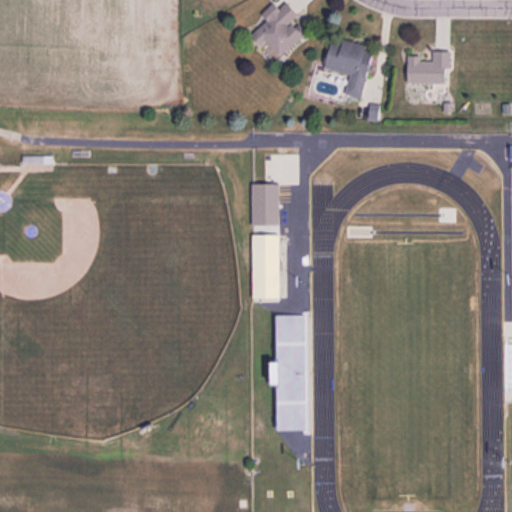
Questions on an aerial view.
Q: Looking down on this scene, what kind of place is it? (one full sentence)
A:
This image shows a sports ground.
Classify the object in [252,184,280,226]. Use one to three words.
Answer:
shed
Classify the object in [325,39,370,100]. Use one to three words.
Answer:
house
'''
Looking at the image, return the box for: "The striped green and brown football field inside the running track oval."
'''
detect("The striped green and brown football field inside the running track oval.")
[334,183,481,512]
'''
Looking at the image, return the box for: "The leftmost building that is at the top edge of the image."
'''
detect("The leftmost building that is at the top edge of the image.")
[253,2,301,58]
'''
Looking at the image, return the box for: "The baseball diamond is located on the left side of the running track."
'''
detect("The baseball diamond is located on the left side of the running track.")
[0,164,241,440]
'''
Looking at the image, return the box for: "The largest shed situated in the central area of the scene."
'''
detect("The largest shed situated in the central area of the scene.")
[252,234,288,300]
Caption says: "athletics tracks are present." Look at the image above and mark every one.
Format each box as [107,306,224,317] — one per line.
[314,162,502,512]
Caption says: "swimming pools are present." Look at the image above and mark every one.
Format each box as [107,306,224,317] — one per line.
[316,80,338,96]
